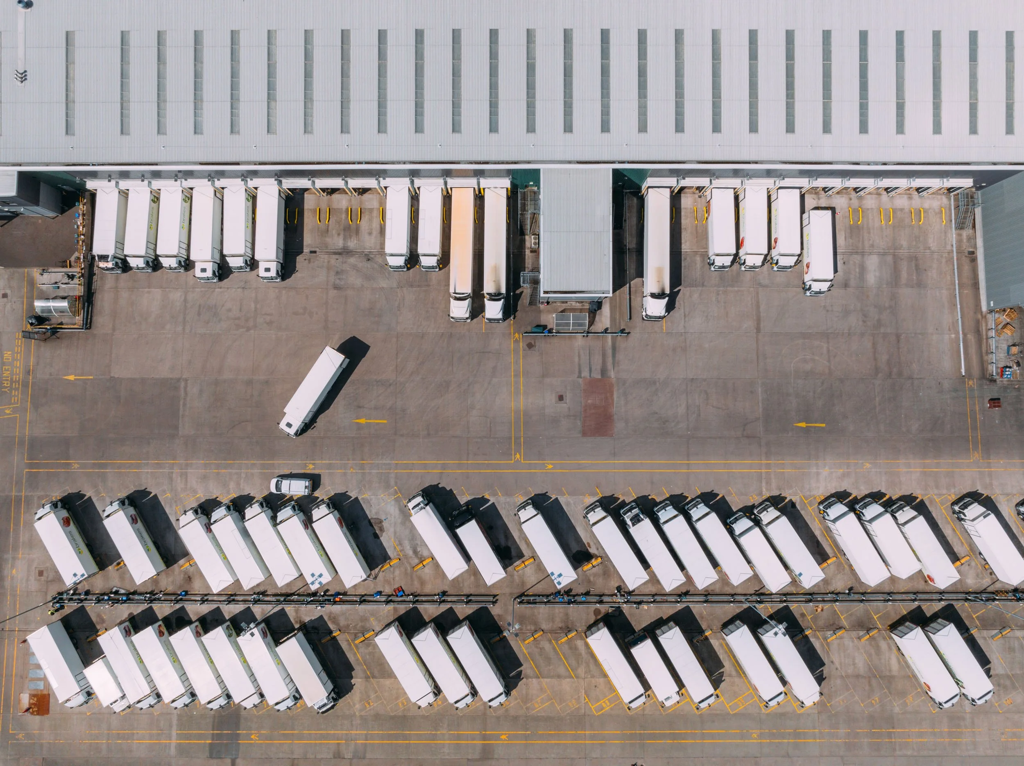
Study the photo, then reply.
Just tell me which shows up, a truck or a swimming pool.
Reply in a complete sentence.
I can see a truck in this picture.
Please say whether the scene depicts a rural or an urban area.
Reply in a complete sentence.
This place is urban.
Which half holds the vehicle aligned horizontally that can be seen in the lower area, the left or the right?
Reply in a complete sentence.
It is on the left.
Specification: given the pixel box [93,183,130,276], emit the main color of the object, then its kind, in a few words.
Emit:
white truck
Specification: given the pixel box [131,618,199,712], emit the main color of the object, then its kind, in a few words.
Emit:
white truck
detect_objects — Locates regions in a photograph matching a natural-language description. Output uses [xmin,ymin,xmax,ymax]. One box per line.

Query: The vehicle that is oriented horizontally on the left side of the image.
[270,477,314,498]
